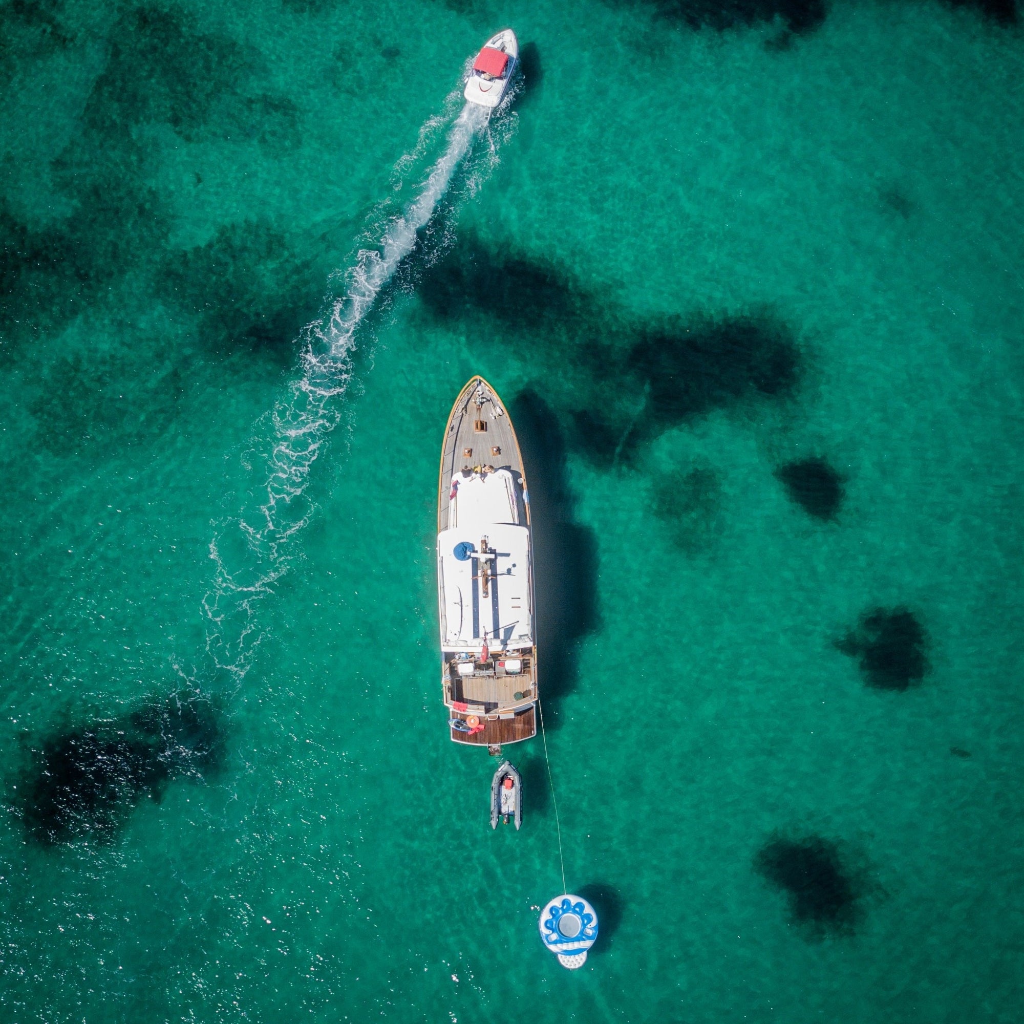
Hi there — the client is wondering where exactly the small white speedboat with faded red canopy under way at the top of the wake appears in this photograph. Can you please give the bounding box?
[464,27,518,126]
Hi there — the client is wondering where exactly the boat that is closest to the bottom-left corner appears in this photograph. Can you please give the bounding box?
[490,760,523,830]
